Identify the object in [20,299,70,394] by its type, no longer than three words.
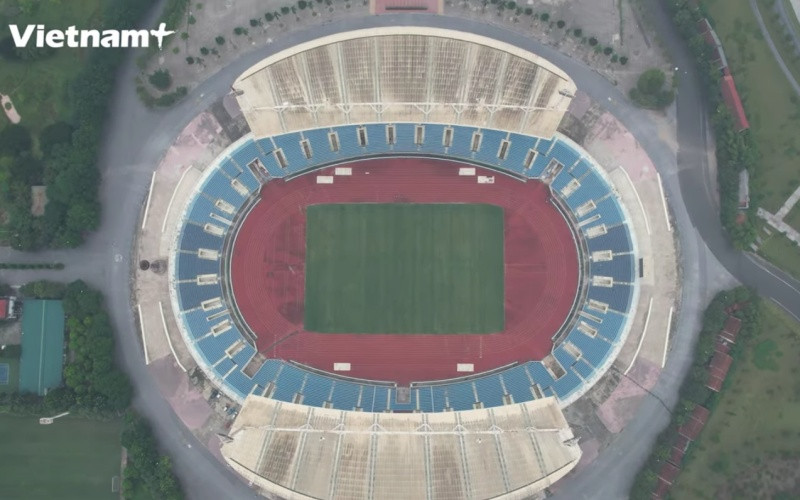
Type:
building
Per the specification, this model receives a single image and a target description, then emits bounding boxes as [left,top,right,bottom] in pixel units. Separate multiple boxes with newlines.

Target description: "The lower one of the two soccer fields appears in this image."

[0,413,126,500]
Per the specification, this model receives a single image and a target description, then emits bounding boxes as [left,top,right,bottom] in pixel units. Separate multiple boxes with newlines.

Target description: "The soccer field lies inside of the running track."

[305,203,505,334]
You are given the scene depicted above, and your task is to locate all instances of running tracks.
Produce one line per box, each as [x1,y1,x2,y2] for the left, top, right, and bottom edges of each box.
[232,158,577,386]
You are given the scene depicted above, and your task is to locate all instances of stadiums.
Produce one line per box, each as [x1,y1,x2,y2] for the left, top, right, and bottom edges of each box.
[169,27,641,500]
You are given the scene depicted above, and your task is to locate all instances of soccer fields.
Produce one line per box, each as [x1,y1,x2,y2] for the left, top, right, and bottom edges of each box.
[0,413,126,500]
[305,203,505,334]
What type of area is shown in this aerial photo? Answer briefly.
sports ground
